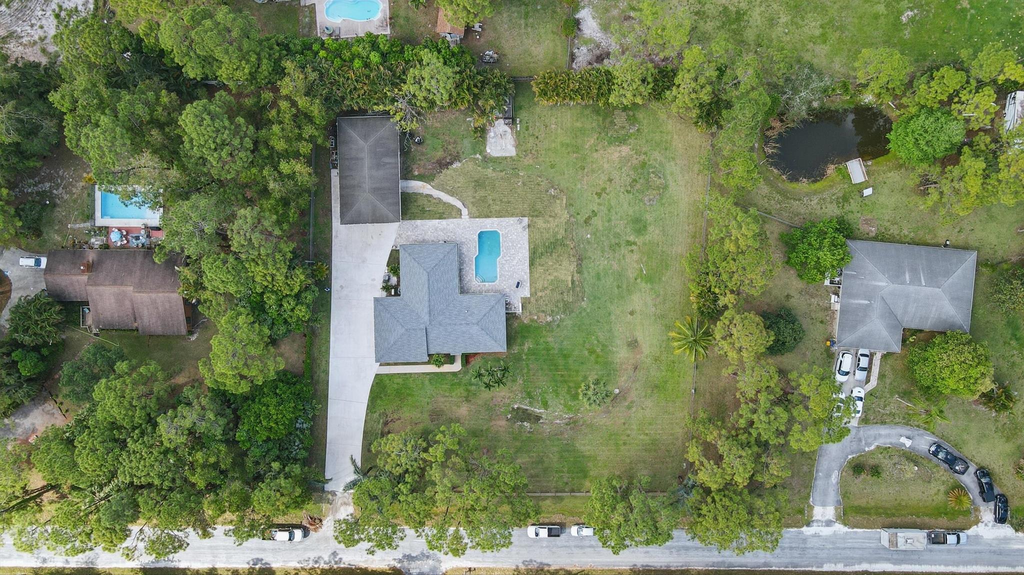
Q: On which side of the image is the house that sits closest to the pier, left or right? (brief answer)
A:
right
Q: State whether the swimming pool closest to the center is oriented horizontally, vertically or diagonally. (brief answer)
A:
vertically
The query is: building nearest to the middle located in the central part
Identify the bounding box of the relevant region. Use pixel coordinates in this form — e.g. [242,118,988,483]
[373,242,507,363]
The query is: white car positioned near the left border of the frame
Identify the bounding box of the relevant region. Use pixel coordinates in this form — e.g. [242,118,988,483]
[17,254,44,269]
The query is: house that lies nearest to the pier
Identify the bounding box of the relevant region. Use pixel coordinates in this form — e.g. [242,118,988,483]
[832,239,977,353]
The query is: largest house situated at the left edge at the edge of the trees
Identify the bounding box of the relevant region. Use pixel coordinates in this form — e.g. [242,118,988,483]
[44,249,192,335]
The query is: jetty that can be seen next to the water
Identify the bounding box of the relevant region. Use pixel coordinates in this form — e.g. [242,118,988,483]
[844,157,870,184]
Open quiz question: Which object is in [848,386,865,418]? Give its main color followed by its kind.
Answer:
white car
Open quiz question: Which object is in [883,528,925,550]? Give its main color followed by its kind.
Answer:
white trailer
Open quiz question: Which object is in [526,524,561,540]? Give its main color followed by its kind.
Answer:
white vehicle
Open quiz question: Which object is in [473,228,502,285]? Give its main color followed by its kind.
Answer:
blue swimming pool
